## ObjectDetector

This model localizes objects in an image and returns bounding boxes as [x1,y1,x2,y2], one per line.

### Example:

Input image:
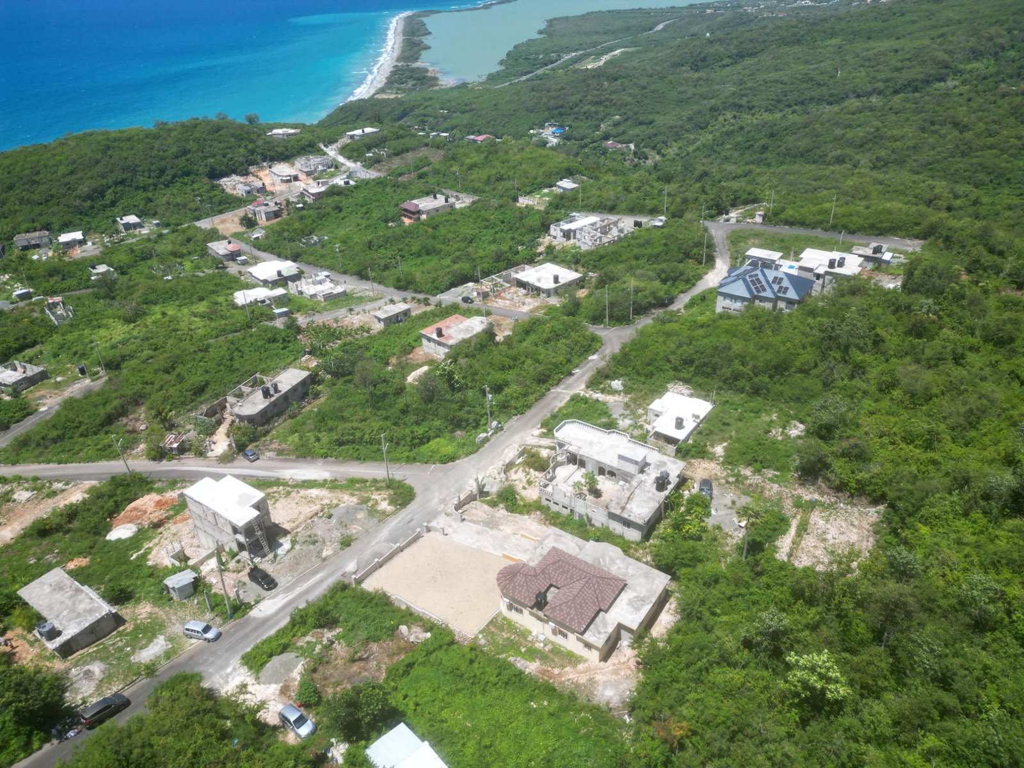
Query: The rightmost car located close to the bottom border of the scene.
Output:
[275,702,316,740]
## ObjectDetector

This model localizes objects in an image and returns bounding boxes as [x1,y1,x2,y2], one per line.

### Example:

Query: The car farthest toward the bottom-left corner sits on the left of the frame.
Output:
[74,693,133,732]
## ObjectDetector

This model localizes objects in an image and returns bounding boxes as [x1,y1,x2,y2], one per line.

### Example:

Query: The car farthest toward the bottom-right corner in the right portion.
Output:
[699,473,714,500]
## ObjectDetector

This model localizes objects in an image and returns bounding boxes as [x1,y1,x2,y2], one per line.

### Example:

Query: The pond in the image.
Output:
[420,0,705,82]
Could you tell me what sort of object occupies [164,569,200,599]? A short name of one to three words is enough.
shed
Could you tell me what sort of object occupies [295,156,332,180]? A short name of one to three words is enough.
house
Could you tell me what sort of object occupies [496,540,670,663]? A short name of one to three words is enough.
house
